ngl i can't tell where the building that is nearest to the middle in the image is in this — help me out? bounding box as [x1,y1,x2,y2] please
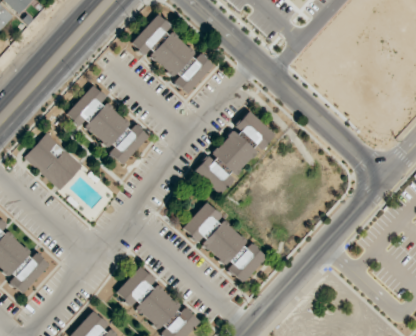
[194,110,276,193]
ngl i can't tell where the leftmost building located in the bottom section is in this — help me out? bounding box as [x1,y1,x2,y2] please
[0,220,48,295]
